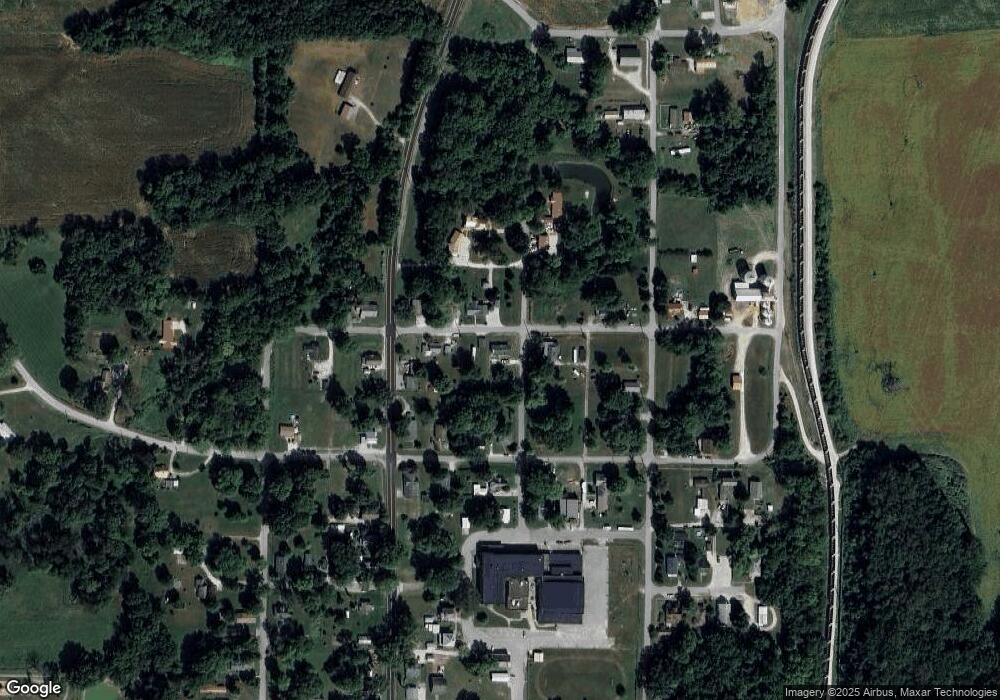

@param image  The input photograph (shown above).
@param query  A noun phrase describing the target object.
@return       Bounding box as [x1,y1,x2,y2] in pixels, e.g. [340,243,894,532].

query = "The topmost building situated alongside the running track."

[478,546,584,625]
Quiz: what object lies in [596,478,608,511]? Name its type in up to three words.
house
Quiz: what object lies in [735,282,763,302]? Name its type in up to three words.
barn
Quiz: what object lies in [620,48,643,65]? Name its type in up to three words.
building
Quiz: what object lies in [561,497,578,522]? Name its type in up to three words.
house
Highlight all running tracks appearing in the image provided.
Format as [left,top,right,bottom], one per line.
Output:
[538,656,628,700]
